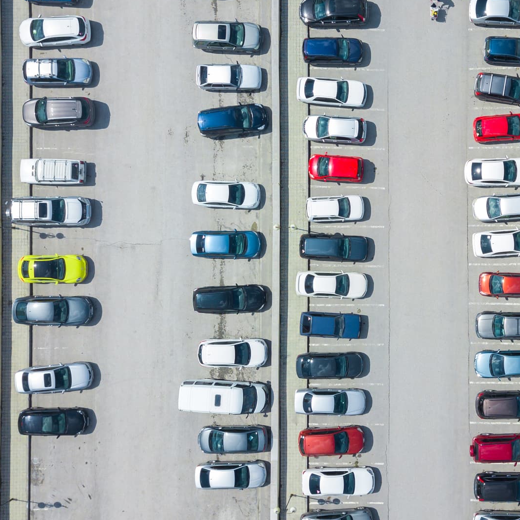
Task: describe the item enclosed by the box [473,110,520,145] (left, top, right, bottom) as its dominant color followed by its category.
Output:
red car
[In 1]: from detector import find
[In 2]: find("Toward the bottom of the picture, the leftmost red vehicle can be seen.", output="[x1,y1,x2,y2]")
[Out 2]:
[298,423,365,458]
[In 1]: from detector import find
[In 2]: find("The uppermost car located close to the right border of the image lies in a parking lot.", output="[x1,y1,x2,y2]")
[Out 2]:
[469,0,520,30]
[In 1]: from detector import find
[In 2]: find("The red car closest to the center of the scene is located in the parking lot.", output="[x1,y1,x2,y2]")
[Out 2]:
[308,151,363,183]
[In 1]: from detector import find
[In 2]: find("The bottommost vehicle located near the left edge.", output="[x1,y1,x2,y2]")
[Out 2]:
[16,405,90,439]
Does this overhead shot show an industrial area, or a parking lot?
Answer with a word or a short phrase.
parking lot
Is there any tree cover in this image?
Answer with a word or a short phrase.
No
